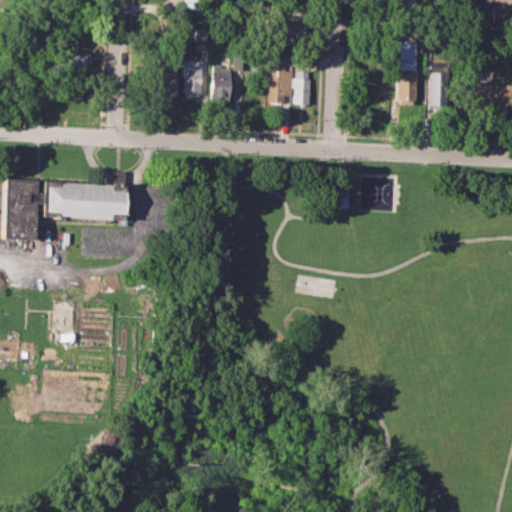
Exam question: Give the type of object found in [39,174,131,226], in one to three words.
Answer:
building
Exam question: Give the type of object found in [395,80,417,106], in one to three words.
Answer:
house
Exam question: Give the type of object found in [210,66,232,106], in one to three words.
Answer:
house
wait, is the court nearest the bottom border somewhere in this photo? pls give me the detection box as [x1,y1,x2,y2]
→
[296,275,336,299]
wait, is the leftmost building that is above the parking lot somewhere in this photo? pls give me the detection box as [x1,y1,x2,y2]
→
[4,180,39,240]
